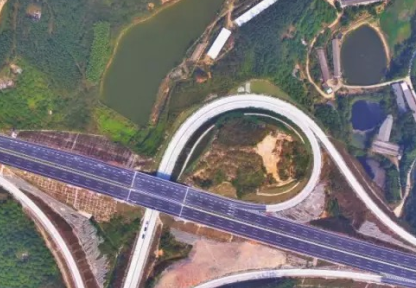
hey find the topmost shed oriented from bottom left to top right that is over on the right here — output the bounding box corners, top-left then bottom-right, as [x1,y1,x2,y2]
[234,0,278,26]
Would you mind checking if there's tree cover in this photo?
Yes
